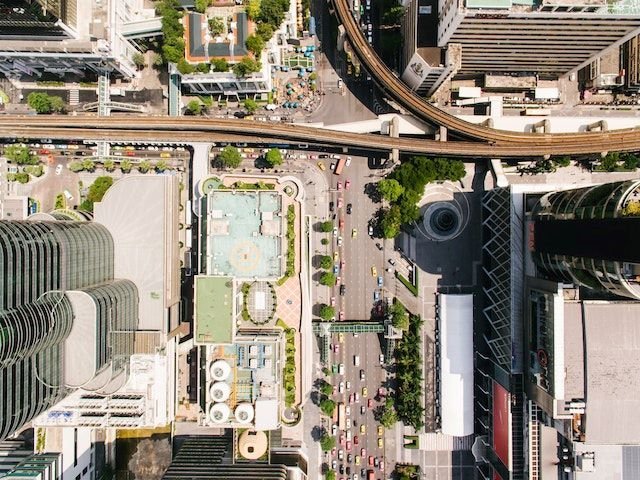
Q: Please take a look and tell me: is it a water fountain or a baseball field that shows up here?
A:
water fountain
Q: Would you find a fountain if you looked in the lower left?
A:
No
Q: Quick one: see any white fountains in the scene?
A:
No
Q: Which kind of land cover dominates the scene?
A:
buildings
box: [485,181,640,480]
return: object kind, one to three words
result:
building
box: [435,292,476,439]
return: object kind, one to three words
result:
tent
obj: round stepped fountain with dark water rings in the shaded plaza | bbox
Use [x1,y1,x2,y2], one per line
[422,198,459,236]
